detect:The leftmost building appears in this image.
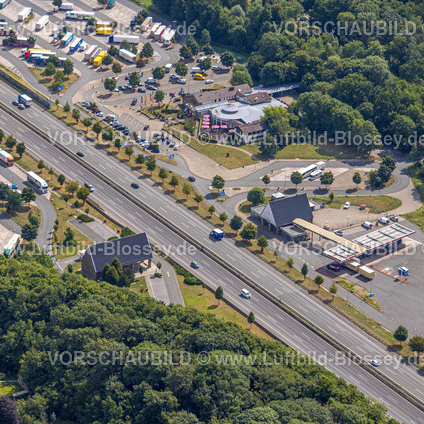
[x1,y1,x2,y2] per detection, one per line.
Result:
[79,231,156,279]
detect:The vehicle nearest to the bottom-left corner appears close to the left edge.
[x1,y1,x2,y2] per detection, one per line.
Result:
[4,234,20,260]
